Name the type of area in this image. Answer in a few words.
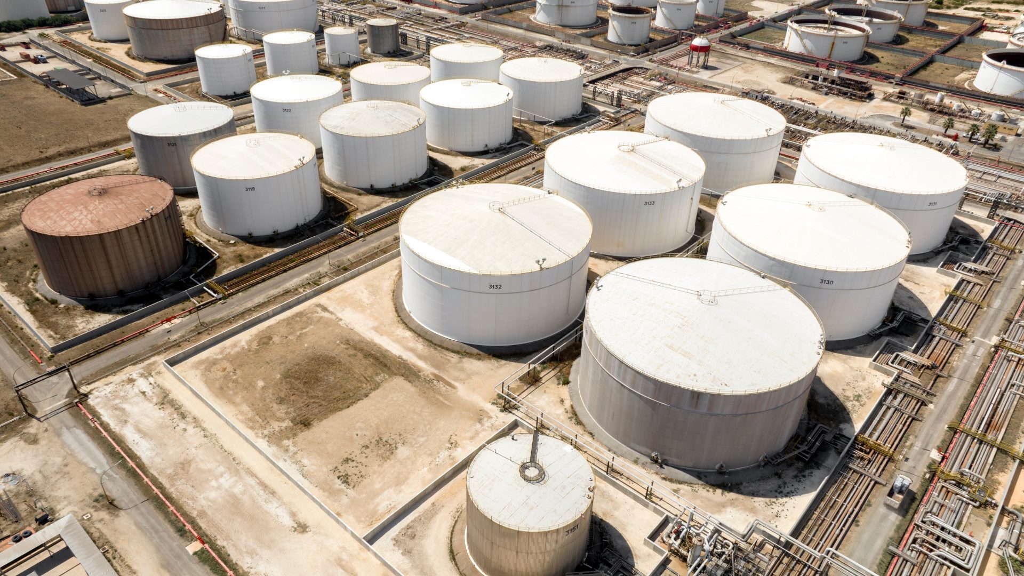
industrial area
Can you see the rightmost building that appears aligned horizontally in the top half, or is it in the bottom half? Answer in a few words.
top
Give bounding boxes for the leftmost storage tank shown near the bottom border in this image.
[450,418,603,576]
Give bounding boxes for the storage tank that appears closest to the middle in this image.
[394,178,597,351]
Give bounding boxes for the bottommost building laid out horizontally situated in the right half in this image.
[980,120,1023,142]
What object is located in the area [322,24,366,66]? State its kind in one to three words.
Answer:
storage tank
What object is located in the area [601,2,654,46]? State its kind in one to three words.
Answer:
storage tank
